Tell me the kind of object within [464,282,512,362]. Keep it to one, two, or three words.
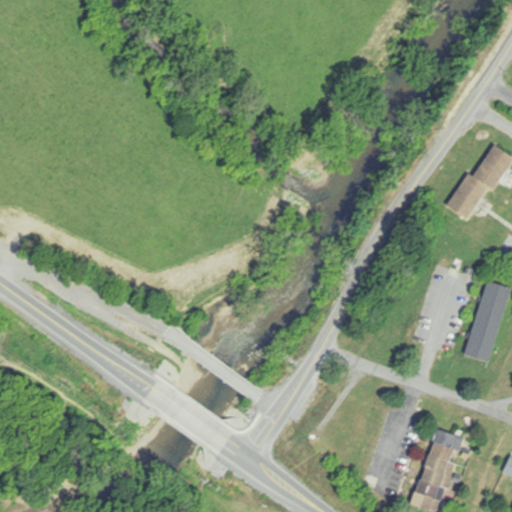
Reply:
building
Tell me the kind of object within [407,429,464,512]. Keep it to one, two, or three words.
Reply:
building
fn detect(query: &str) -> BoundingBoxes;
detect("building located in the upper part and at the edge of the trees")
[446,143,512,221]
